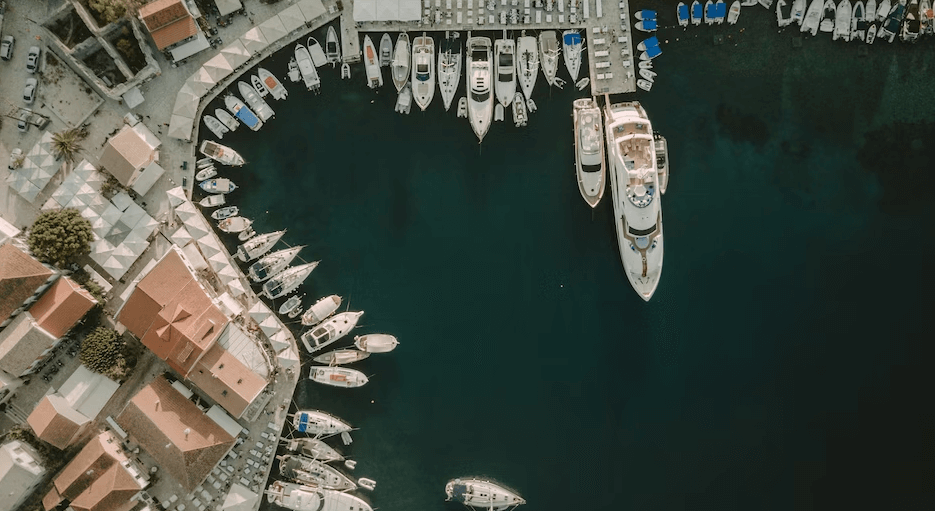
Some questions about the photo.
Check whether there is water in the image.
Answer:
Yes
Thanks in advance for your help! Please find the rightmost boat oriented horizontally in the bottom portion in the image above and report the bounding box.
[444,477,529,511]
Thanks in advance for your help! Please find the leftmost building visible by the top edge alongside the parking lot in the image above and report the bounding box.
[28,0,160,97]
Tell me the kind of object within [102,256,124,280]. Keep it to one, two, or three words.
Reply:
umbrella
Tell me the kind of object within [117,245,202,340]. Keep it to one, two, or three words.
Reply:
house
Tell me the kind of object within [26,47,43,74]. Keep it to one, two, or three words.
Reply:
car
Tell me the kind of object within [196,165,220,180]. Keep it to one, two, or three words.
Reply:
boat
